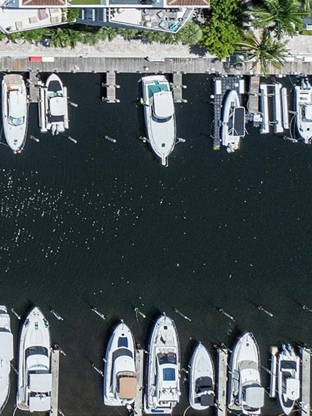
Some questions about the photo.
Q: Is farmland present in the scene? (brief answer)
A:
No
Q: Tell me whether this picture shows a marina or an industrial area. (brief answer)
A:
marina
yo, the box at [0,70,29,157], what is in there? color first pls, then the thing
white boat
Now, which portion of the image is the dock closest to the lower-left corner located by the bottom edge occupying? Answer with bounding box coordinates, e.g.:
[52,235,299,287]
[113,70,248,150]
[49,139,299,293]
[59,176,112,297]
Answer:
[49,349,62,416]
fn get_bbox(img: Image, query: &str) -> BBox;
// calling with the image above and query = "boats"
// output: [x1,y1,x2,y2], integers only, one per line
[226,329,263,413]
[215,88,244,152]
[13,306,53,413]
[184,339,213,407]
[286,80,312,146]
[41,71,64,132]
[99,318,137,405]
[0,70,29,157]
[136,72,177,165]
[143,311,181,413]
[0,304,11,410]
[275,346,295,416]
